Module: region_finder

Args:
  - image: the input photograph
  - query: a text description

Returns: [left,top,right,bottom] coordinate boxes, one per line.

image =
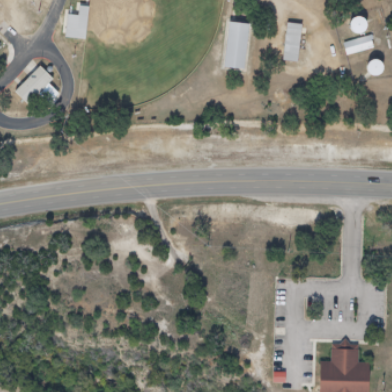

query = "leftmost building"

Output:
[16,66,54,103]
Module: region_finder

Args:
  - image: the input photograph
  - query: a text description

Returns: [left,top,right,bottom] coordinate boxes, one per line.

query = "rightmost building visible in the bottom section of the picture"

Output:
[322,344,372,392]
